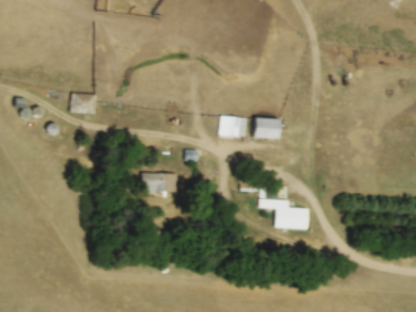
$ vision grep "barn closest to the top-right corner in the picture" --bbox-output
[253,118,283,140]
